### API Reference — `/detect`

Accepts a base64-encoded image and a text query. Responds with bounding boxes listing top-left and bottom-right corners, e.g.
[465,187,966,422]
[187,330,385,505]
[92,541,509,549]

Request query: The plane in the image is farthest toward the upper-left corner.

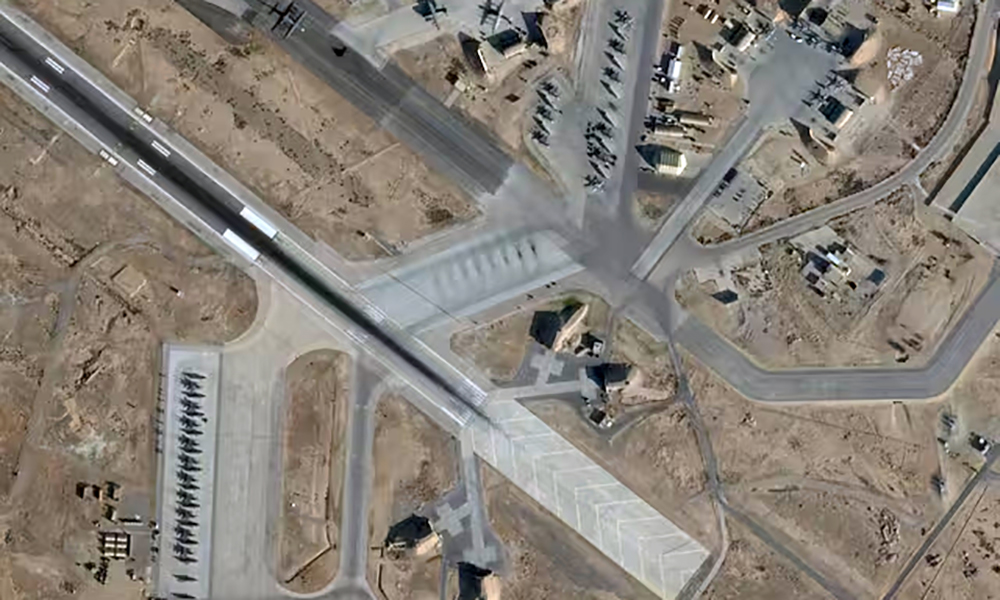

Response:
[283,11,307,37]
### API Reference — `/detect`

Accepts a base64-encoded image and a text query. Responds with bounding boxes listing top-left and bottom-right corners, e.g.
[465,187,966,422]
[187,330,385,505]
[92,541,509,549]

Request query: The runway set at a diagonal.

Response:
[0,0,709,600]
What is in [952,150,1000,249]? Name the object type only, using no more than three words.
building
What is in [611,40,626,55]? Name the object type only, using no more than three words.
airplane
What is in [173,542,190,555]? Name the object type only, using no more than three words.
airplane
